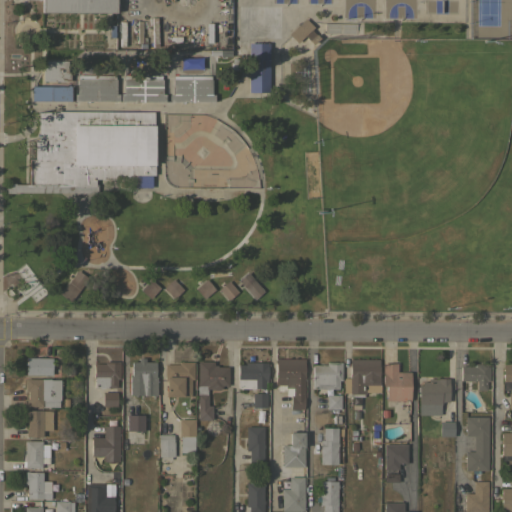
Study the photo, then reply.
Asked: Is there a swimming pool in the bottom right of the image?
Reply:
Yes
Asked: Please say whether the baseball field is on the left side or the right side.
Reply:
right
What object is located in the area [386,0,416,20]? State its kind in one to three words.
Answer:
basketball court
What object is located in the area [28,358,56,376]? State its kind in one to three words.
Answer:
house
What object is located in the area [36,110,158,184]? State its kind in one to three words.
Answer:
building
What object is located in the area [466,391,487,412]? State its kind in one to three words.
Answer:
swimming pool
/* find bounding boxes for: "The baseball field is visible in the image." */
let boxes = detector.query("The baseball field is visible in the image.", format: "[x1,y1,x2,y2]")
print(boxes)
[318,38,512,242]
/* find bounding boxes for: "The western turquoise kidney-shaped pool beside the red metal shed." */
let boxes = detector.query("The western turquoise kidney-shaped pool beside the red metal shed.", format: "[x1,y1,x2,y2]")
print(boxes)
[385,424,412,443]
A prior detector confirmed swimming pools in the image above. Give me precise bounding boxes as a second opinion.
[466,391,487,412]
[385,424,412,443]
